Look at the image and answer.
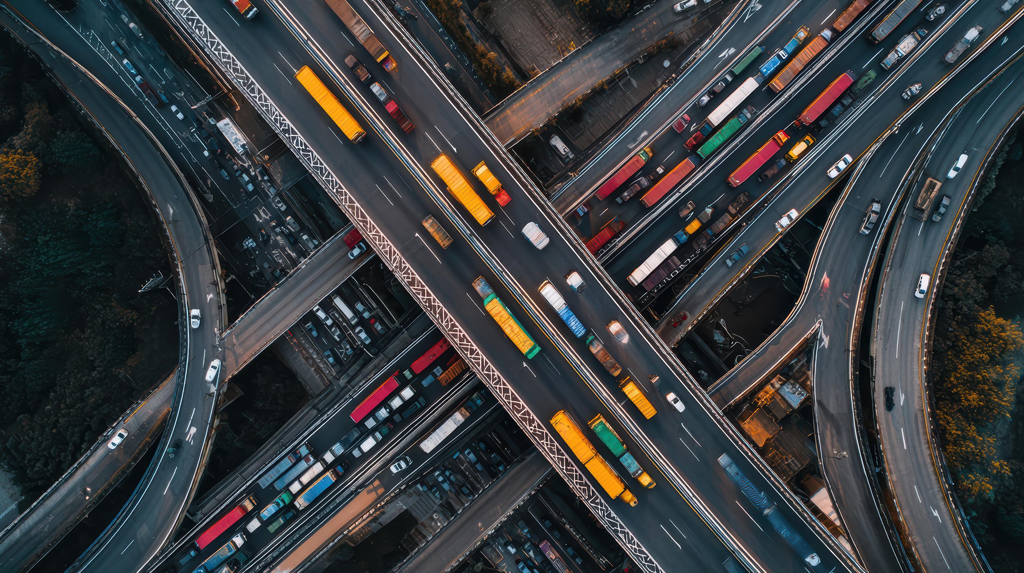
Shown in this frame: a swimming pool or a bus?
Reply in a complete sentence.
It is a bus that can be seen here.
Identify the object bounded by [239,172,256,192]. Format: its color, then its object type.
blue vehicle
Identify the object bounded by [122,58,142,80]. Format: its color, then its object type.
blue vehicle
